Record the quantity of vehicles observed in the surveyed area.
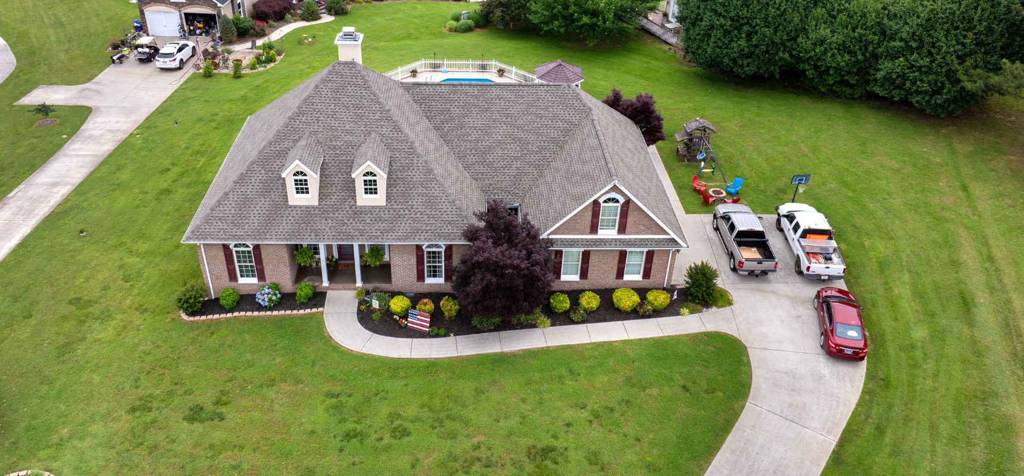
5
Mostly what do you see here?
grass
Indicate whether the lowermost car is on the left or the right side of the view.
right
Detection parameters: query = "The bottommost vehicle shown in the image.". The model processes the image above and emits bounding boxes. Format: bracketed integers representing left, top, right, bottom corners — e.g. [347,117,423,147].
[814,284,875,359]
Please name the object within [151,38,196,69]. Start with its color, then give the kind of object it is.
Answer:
white car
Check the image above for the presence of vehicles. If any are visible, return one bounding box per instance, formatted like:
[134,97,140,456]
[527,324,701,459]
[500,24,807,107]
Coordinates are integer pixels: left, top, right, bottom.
[129,29,161,60]
[711,202,781,278]
[777,200,851,284]
[814,284,875,359]
[151,38,196,69]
